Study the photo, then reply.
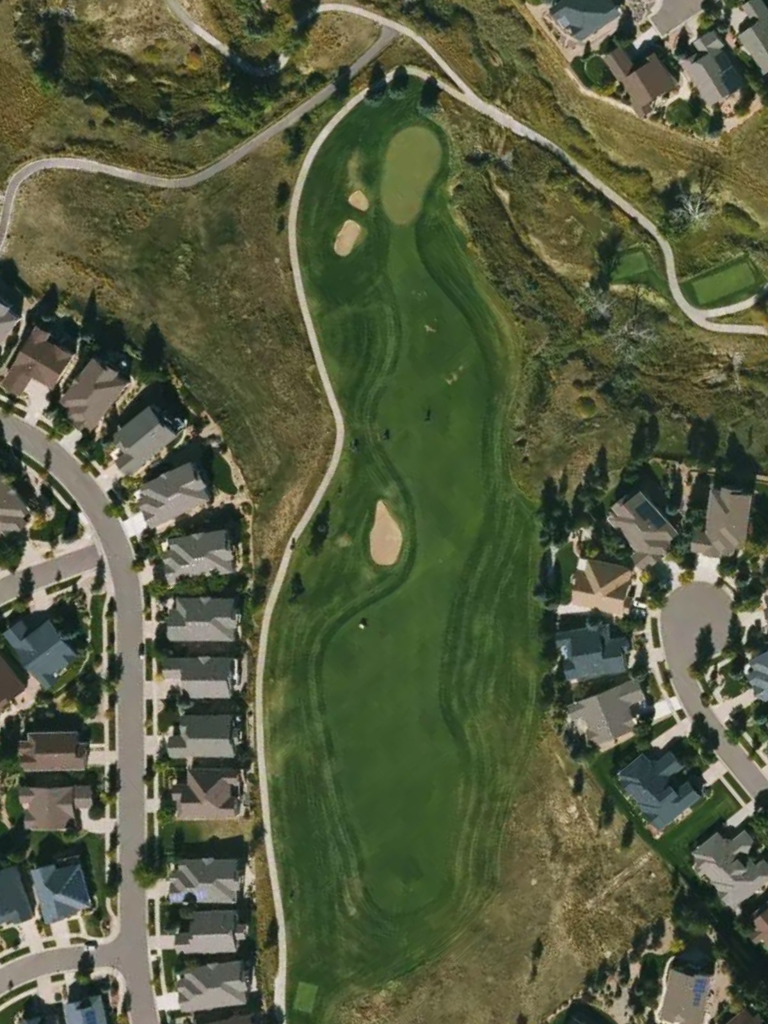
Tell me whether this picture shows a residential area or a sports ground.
residential area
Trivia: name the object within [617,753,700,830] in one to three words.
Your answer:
house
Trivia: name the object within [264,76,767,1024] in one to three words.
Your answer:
golf course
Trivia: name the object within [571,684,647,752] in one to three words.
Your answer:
house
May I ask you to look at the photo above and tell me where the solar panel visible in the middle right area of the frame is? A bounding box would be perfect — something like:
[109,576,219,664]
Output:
[639,502,664,527]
